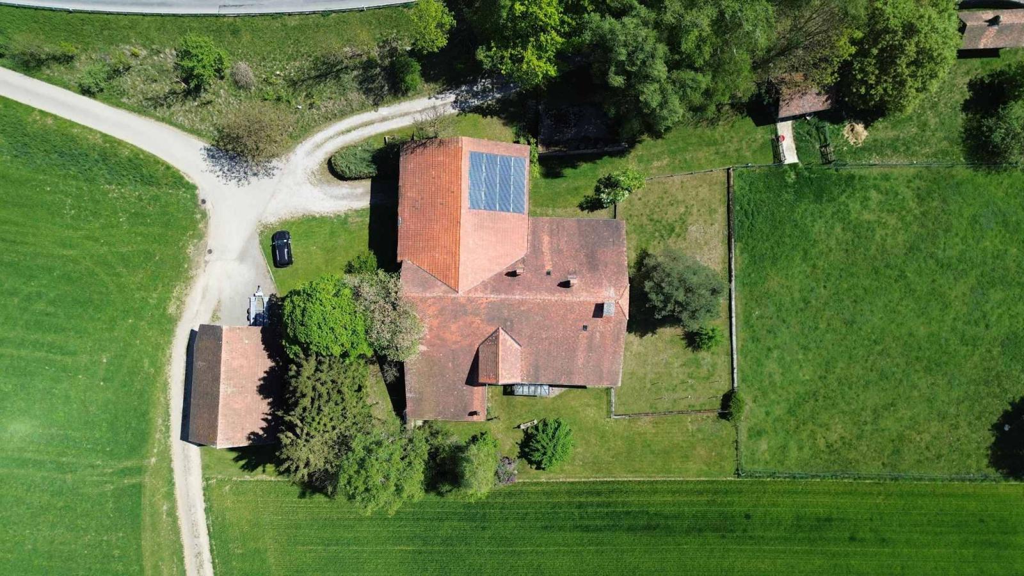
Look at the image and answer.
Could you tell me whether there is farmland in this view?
Yes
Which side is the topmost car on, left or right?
left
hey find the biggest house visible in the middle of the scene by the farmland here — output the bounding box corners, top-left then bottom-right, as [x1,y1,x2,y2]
[396,135,632,421]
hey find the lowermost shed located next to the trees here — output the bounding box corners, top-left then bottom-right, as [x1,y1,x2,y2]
[188,323,282,449]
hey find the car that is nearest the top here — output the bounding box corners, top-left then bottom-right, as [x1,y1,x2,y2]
[271,230,293,268]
